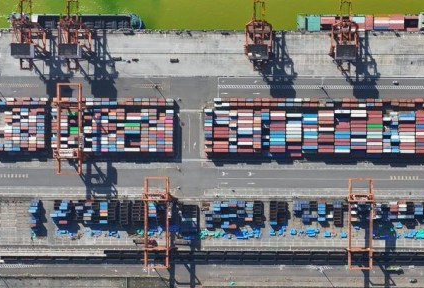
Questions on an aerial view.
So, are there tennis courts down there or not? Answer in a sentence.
No, the photo shows no tennis court.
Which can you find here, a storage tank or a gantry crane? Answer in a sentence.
Visible in the photo is a gantry crane.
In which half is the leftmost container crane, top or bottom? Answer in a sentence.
The leftmost container crane sits in the top half of the picture.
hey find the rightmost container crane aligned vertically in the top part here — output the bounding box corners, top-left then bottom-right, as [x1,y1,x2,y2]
[328,0,360,71]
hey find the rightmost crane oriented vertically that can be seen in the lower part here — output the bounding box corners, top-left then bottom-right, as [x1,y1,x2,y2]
[340,177,375,268]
